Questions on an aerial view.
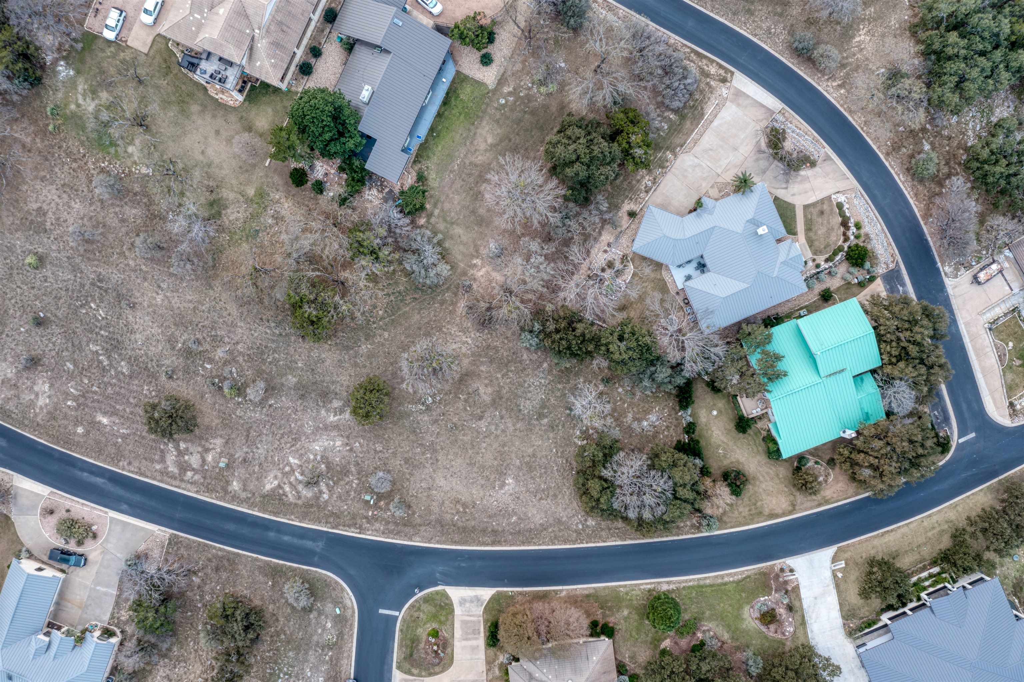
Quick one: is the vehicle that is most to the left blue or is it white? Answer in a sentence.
The color of the vehicle that is most to the left is blue.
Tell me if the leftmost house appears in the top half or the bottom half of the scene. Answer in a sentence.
Seen from above, the leftmost house lies in the bottom half of the view.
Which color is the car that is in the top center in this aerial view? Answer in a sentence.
The car that is in the top center is white.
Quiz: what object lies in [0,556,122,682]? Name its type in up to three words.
house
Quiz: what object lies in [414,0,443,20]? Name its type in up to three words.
car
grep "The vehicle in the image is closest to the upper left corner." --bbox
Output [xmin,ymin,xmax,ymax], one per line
[105,6,128,42]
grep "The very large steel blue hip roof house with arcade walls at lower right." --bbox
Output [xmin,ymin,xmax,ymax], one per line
[851,576,1024,682]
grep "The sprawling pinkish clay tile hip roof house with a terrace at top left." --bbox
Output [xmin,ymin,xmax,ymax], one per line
[160,0,332,95]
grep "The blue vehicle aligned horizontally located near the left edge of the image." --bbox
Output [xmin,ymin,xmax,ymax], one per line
[48,547,90,567]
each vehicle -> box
[142,0,164,28]
[414,0,443,20]
[344,671,358,682]
[105,6,128,42]
[48,547,90,567]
